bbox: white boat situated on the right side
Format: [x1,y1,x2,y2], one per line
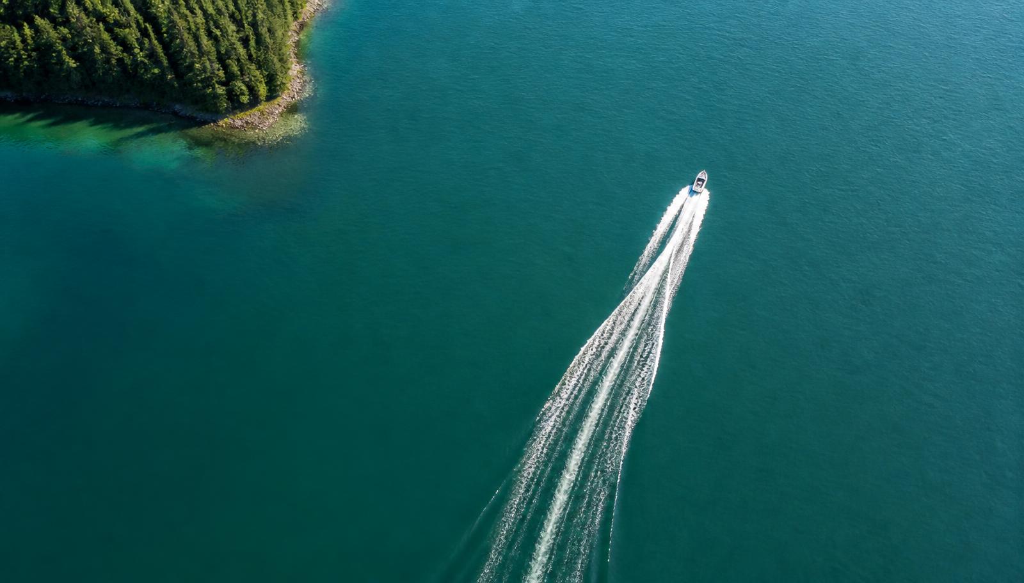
[692,170,707,193]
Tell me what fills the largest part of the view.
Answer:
water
